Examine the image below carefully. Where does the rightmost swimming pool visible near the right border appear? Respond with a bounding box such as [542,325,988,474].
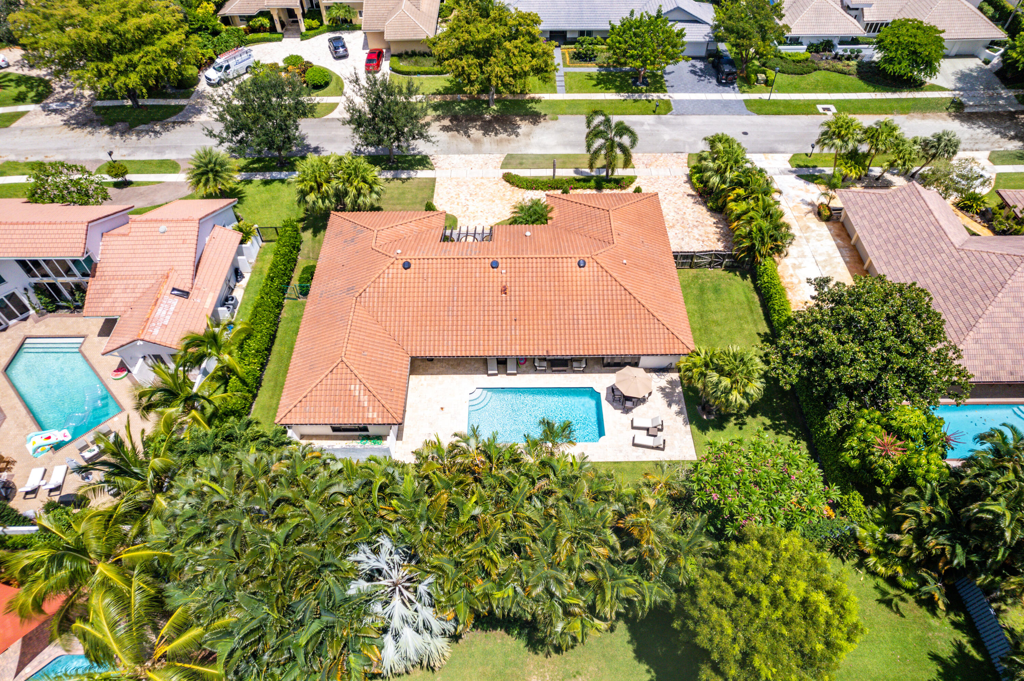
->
[927,402,1024,462]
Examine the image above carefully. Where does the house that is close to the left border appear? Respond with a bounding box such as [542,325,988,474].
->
[0,197,244,392]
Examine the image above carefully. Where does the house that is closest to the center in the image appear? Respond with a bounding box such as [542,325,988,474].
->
[273,190,694,463]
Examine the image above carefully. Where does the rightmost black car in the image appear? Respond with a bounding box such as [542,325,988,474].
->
[715,52,736,77]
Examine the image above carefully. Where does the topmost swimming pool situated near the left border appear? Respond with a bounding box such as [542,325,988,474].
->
[0,333,125,455]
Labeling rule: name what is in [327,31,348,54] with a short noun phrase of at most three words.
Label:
car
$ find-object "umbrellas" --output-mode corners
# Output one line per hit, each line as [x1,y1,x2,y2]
[67,460,93,500]
[615,365,653,400]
